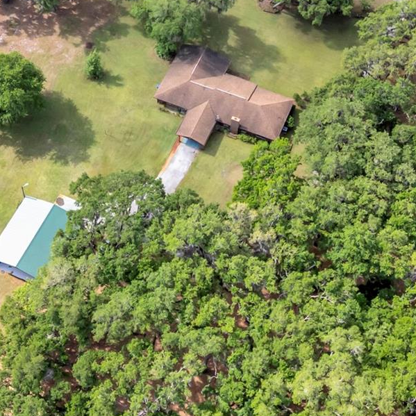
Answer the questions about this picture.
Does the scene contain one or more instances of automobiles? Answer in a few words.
No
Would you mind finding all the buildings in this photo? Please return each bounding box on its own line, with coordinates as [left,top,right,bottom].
[153,46,294,153]
[0,198,81,290]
